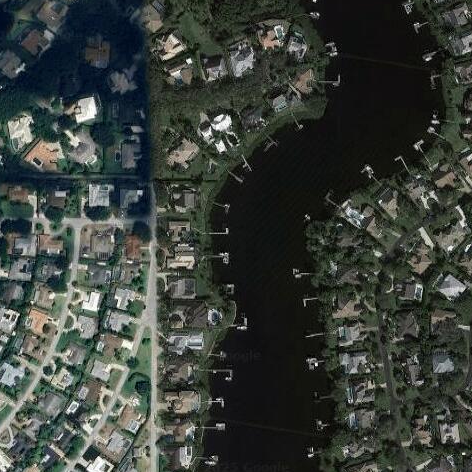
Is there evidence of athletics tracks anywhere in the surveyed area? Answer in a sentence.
No, there appears to be no athletics track in this shot.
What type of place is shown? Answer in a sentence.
It's a residential area.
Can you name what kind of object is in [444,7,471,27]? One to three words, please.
house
